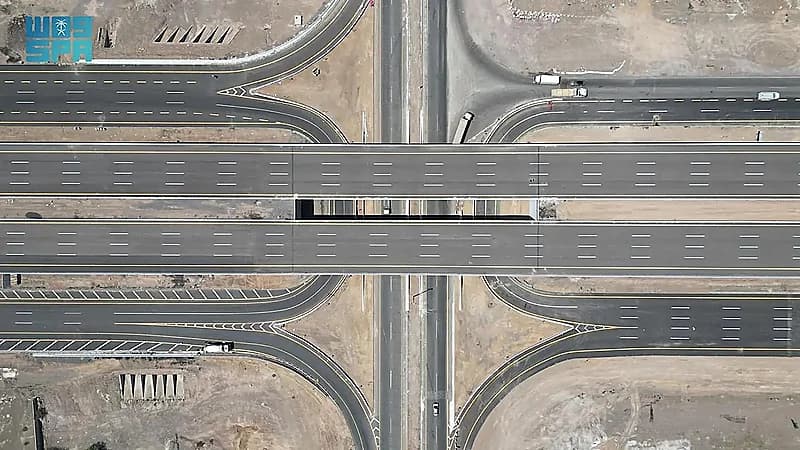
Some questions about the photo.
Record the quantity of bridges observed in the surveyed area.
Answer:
two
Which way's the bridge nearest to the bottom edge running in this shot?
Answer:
from side to side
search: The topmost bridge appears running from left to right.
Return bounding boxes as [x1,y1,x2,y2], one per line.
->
[291,141,541,200]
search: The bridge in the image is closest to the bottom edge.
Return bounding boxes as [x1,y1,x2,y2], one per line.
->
[291,219,541,277]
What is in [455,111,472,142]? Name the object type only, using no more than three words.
vehicle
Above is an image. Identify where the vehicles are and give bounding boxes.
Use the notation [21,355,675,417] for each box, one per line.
[759,91,780,99]
[384,200,391,214]
[201,345,229,353]
[533,73,562,84]
[552,87,588,96]
[455,111,472,142]
[433,403,439,416]
[570,80,585,86]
